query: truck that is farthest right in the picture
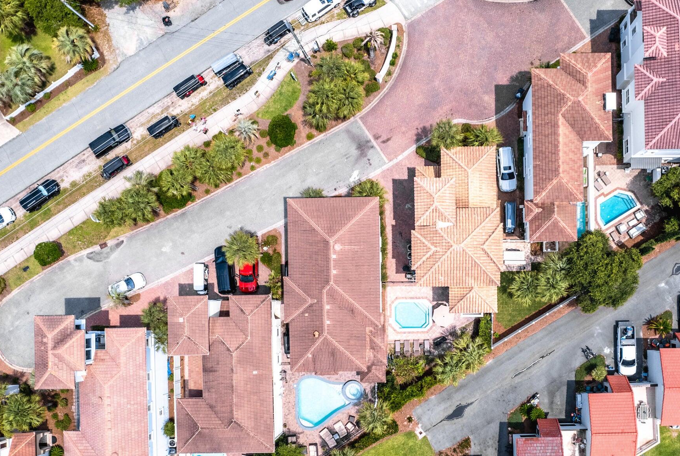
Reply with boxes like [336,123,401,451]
[618,319,641,377]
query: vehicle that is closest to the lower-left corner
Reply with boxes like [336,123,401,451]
[103,270,146,298]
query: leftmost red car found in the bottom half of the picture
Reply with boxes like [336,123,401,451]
[236,259,257,294]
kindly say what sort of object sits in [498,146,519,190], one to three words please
car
